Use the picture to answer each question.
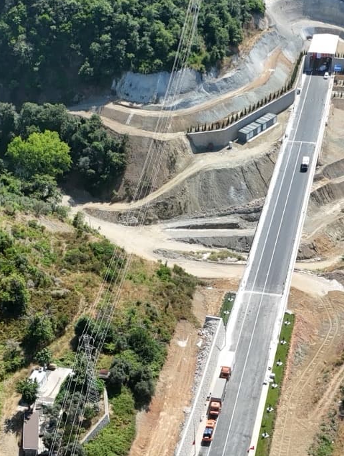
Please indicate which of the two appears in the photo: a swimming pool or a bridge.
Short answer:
bridge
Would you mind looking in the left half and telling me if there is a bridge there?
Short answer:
No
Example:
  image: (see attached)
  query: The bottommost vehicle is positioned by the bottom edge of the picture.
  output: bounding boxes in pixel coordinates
[198,415,216,441]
